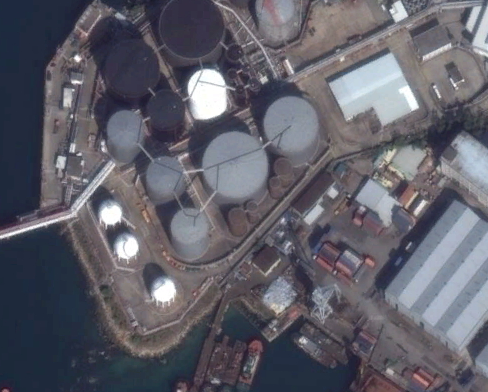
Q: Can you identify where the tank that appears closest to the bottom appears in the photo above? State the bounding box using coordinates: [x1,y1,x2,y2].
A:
[152,276,182,307]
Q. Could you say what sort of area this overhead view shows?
port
